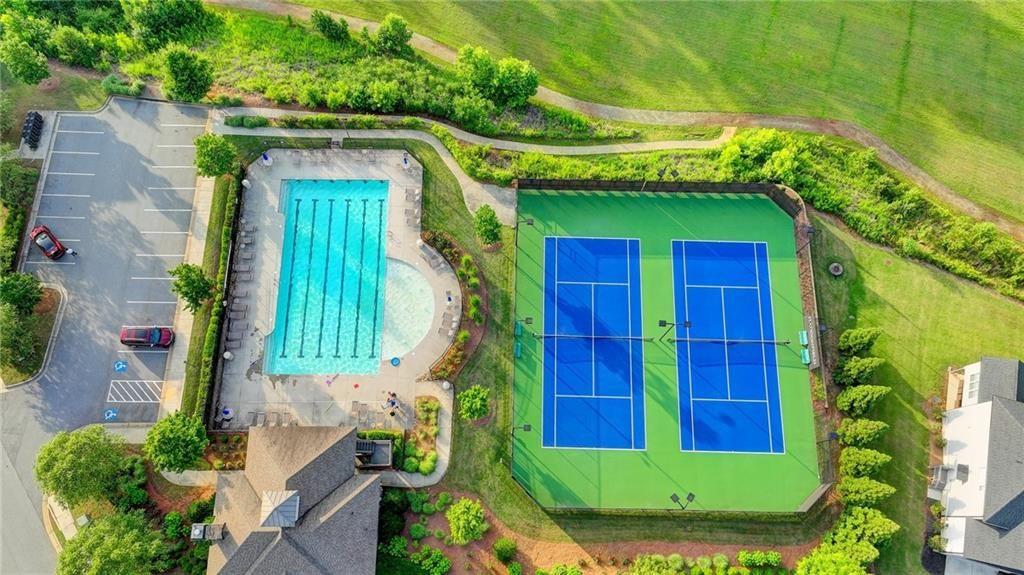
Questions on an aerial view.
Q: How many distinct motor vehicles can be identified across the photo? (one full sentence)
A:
The picture shows 2 motor vehicles.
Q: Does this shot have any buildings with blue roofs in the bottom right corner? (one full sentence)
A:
No, no building with a blue roof is visible in the bottom right corner.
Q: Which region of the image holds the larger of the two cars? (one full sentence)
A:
The larger of the two cars appears toward the left of the photo.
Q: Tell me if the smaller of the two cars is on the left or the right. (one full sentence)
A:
The smaller of the two cars sits on the left side.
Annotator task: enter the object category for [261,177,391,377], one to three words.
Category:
swimming pool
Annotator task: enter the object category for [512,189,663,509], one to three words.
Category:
tennis court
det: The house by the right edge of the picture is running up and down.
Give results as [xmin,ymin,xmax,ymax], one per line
[927,356,1024,573]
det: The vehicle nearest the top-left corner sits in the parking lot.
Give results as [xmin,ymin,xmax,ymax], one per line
[33,227,65,261]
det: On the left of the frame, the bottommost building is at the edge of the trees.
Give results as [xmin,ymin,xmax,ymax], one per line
[188,426,382,575]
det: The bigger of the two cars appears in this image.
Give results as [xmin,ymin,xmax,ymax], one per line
[122,327,174,349]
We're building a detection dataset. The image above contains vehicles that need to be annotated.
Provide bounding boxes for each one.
[122,327,174,349]
[33,227,65,261]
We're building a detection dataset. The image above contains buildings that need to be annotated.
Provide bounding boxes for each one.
[188,426,382,575]
[927,356,1024,573]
